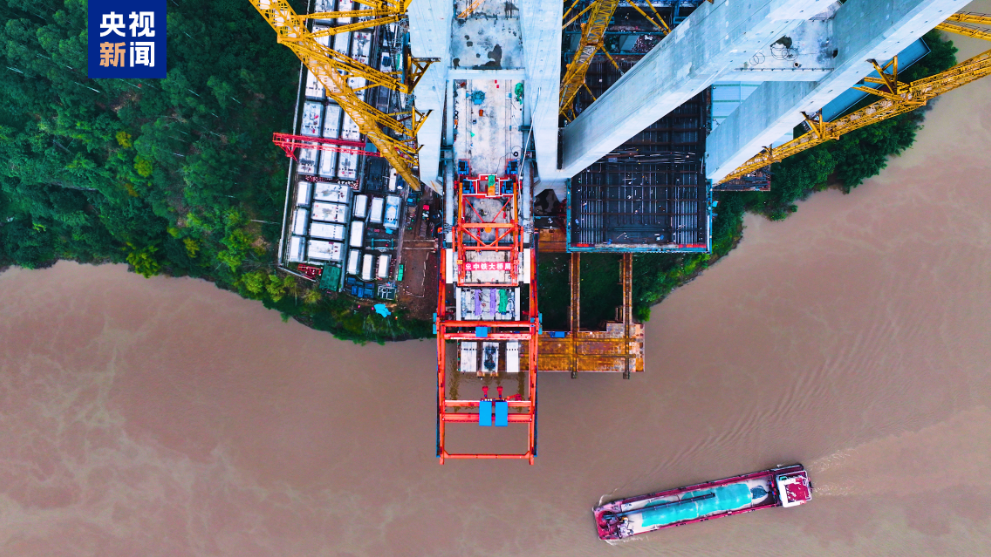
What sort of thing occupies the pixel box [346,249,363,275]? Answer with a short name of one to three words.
building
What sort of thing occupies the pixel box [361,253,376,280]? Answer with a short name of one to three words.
building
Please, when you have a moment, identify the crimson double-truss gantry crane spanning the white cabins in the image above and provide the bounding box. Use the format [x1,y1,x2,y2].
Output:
[272,132,387,160]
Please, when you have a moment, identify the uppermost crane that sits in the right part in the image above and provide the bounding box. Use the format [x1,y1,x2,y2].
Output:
[560,0,687,140]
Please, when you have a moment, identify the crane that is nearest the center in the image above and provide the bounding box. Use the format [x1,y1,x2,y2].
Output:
[453,159,524,285]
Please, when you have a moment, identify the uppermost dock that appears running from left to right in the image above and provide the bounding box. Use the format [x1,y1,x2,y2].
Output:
[458,322,646,373]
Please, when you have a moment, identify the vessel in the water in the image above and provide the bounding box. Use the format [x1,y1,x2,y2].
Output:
[592,462,819,542]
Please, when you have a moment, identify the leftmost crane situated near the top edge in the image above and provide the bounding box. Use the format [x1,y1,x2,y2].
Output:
[231,0,438,189]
